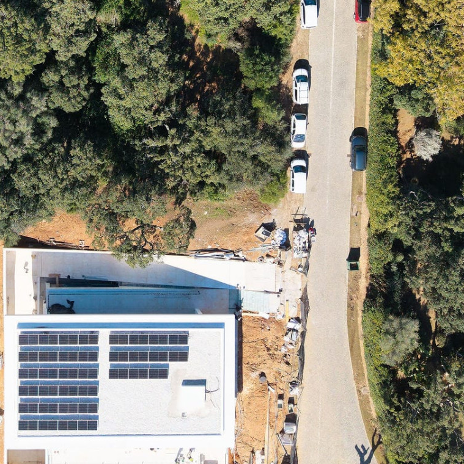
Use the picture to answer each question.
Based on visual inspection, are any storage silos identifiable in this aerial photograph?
No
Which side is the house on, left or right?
left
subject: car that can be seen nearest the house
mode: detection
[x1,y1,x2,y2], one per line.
[289,158,308,194]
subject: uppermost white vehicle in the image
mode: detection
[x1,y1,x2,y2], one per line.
[299,0,318,30]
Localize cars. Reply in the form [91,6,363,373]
[291,69,309,105]
[289,158,308,194]
[352,0,370,23]
[299,0,318,30]
[290,113,308,148]
[348,132,368,167]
